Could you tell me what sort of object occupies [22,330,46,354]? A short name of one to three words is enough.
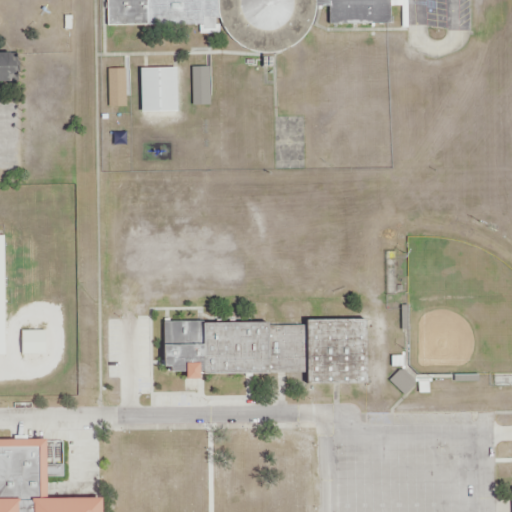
shed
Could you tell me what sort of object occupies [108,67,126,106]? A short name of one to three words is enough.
building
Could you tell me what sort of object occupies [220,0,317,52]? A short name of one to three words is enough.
building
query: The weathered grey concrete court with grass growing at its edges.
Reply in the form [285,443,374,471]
[275,116,304,168]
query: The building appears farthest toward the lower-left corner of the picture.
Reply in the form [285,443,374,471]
[0,440,104,512]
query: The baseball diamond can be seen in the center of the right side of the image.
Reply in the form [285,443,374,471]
[408,236,512,373]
